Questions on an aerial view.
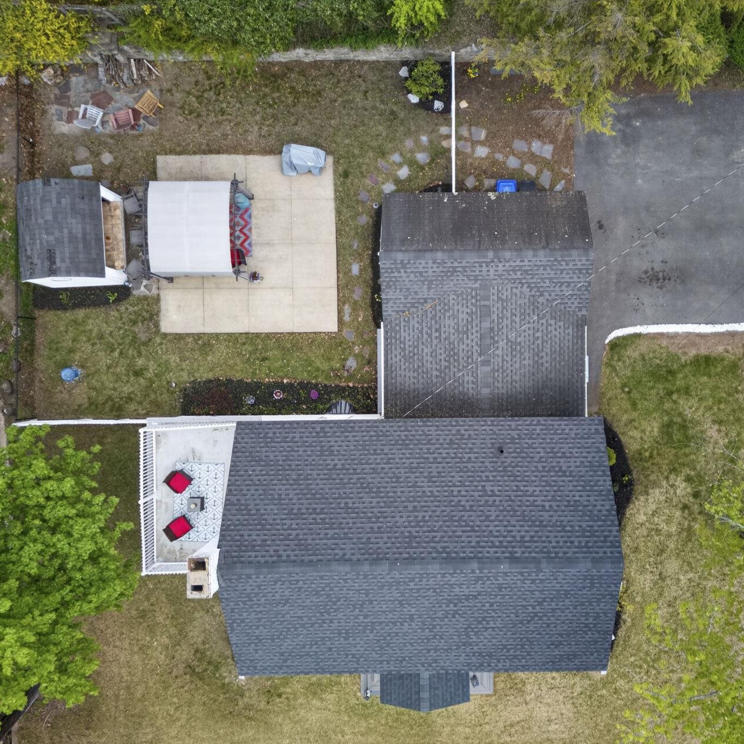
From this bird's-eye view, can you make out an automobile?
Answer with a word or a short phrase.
No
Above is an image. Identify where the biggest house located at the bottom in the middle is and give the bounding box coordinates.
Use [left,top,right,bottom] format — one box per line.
[187,417,624,679]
